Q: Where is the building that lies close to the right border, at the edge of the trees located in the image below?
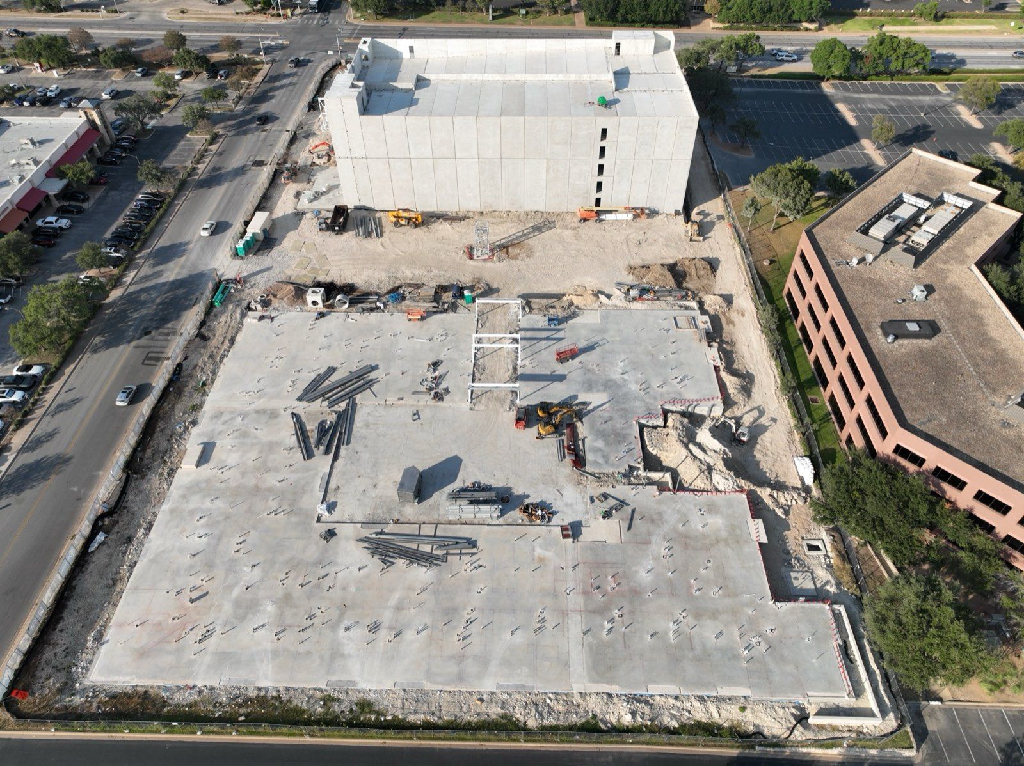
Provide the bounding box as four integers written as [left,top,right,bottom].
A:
[786,149,1024,587]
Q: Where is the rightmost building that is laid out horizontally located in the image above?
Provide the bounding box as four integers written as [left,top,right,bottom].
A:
[324,30,700,213]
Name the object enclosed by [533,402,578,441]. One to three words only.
work vehicle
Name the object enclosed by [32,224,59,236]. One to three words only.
vehicle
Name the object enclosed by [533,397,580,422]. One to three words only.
work vehicle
